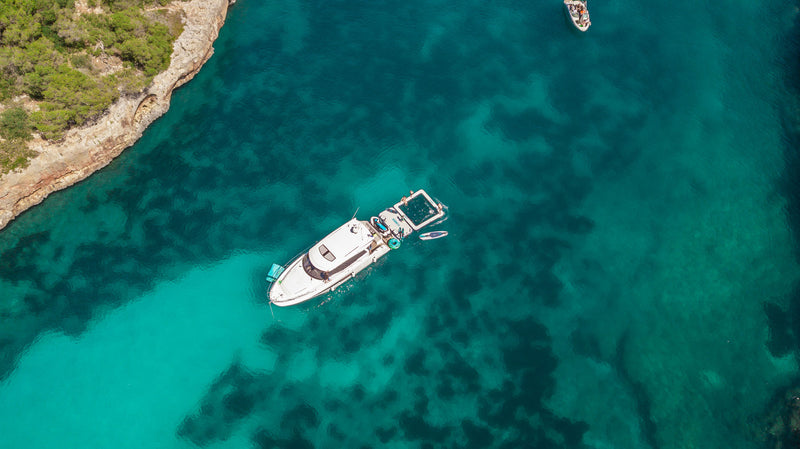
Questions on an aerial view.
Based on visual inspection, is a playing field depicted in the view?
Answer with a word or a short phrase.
No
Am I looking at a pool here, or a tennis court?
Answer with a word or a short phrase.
pool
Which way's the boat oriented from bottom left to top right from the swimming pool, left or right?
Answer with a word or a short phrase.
to its left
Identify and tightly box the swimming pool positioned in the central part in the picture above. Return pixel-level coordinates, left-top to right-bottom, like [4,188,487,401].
[395,191,443,230]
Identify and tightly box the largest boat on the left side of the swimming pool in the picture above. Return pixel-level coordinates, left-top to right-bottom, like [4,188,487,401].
[264,208,402,305]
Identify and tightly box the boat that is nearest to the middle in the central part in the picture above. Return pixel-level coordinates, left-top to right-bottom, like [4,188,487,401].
[374,217,395,239]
